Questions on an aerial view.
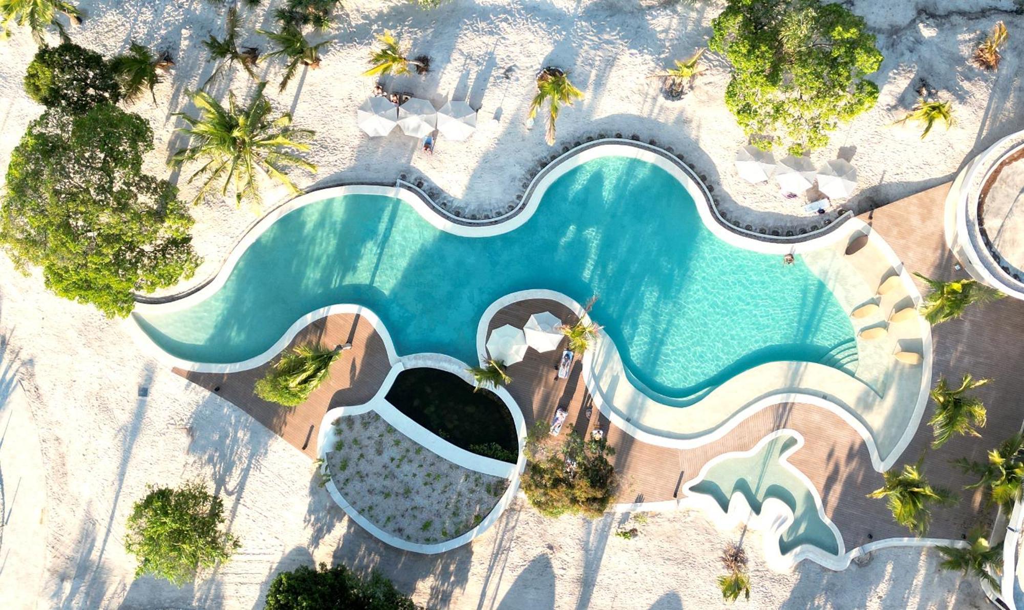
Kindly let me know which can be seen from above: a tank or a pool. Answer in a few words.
pool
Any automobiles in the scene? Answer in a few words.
No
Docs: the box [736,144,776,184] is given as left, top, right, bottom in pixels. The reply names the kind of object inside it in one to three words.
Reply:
umbrella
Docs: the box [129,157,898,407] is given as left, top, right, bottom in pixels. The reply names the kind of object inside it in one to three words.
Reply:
swimming pool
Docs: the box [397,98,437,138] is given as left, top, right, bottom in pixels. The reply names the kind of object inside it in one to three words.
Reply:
umbrella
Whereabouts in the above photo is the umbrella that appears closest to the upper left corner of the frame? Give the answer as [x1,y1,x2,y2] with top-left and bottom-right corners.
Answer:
[358,98,397,137]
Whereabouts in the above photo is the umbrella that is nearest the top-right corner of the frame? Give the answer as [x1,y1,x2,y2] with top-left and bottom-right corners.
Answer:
[817,158,857,199]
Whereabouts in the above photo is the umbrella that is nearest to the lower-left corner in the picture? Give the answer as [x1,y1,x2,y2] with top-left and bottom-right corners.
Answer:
[487,325,526,364]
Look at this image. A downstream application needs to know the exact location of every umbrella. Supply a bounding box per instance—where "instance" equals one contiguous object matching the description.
[358,98,397,137]
[437,101,477,140]
[817,158,857,199]
[487,325,526,364]
[397,98,437,138]
[776,155,815,194]
[736,144,776,184]
[524,311,565,353]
